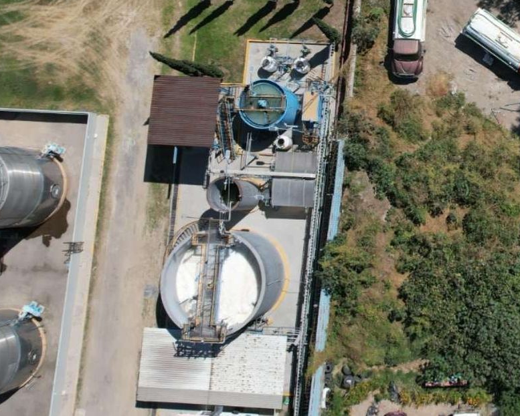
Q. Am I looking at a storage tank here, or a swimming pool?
storage tank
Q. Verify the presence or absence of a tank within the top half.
Yes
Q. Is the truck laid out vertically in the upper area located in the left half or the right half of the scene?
right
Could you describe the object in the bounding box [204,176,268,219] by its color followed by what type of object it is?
gray storage tank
